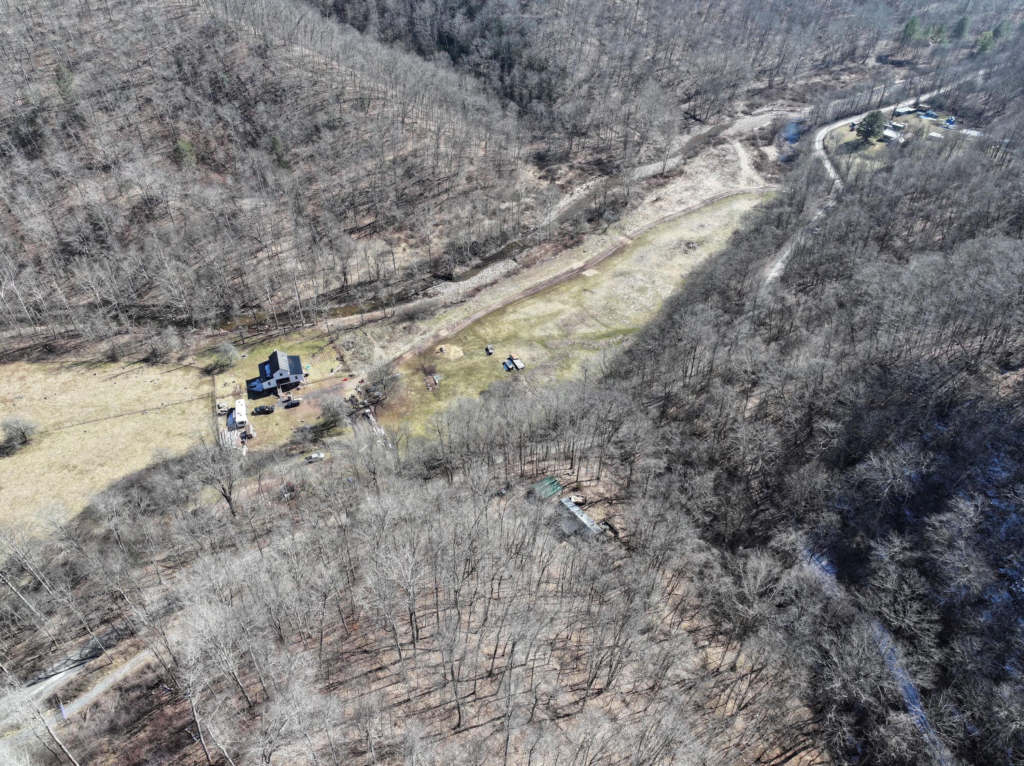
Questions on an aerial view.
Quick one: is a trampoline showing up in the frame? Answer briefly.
No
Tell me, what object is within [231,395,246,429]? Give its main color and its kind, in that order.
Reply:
white vehicle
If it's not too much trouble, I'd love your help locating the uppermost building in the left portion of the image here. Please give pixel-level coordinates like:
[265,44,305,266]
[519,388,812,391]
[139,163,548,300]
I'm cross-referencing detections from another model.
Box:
[258,351,308,399]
